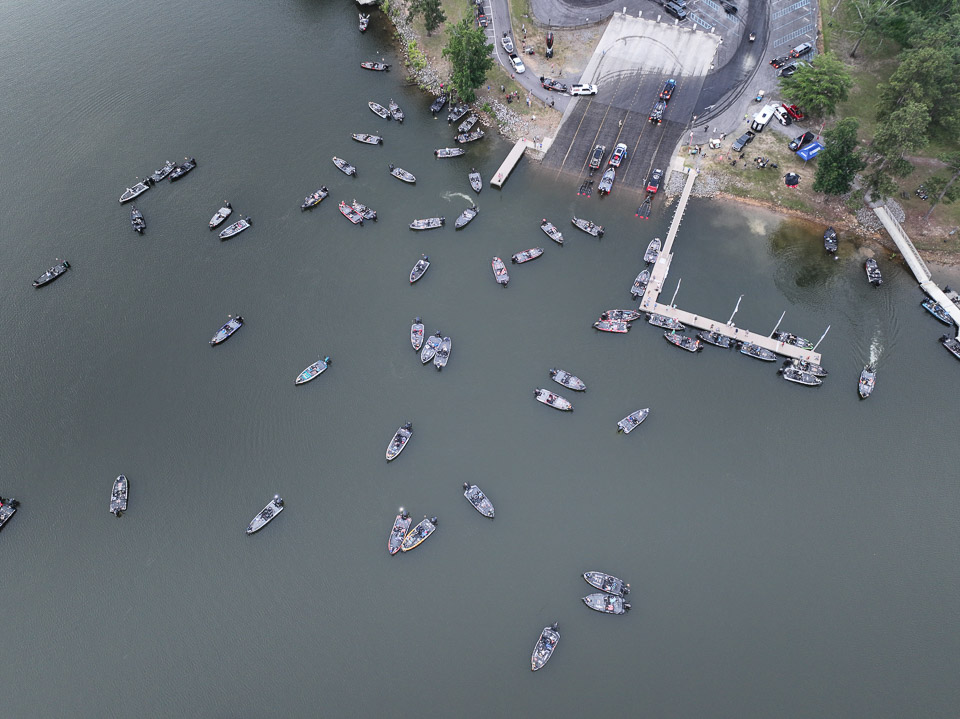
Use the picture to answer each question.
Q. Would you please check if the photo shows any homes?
No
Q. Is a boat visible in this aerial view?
Yes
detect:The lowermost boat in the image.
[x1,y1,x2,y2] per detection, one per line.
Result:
[532,625,559,669]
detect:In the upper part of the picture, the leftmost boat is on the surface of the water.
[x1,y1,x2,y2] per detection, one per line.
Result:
[33,262,68,285]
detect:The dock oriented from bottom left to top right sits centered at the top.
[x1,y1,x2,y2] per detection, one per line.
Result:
[490,140,527,188]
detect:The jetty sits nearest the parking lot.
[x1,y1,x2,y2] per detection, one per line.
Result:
[638,183,821,366]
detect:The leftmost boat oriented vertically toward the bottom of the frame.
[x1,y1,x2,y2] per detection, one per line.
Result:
[109,474,128,516]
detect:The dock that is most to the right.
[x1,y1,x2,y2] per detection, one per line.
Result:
[874,202,960,343]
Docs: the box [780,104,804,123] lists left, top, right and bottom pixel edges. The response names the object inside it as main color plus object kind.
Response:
red vehicle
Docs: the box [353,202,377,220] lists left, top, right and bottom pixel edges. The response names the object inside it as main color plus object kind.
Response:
gray boat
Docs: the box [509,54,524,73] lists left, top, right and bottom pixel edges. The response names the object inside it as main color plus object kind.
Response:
white vehicle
